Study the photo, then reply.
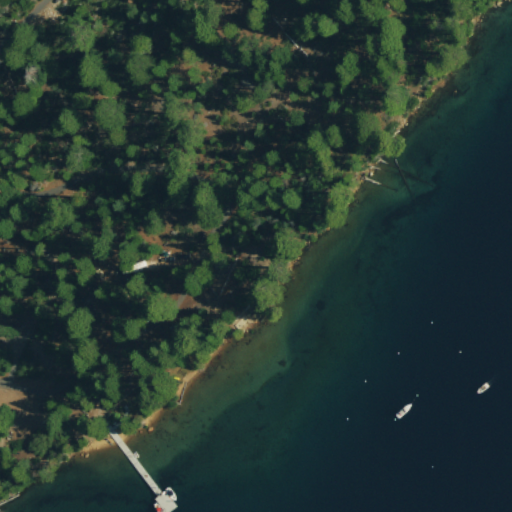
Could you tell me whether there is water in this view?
Yes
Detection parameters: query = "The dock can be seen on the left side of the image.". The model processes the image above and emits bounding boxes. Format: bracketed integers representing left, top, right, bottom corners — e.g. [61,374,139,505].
[109,430,178,512]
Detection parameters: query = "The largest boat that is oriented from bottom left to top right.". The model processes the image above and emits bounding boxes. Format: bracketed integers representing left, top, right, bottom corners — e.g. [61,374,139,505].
[395,404,412,420]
